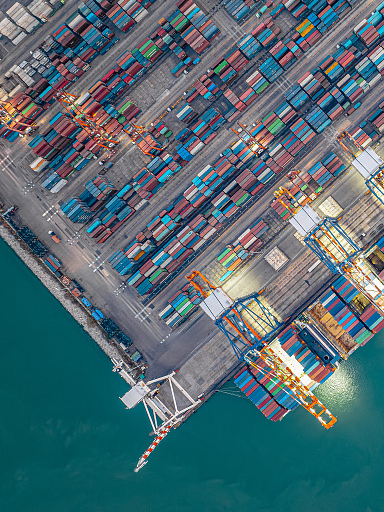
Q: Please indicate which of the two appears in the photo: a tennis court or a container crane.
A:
container crane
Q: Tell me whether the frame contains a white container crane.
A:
Yes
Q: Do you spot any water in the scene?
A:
Yes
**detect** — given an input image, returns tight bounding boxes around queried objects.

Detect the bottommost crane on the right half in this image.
[184,270,340,435]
